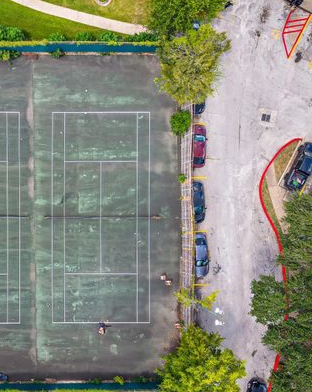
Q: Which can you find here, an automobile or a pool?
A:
automobile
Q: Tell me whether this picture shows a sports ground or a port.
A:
sports ground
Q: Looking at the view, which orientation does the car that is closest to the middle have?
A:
up and down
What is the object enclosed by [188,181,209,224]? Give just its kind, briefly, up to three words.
car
